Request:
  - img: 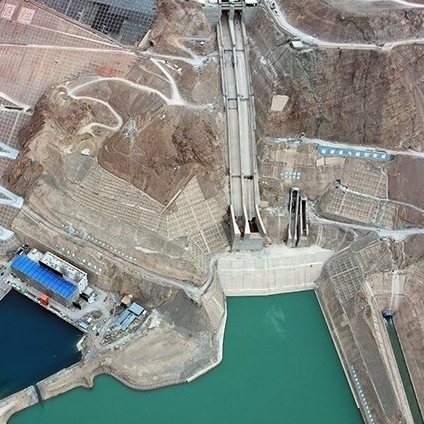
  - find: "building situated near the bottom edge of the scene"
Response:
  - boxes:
[347,303,404,424]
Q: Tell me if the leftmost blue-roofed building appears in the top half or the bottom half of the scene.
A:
bottom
